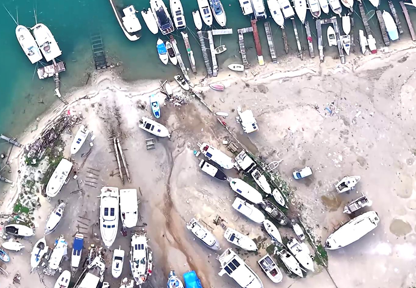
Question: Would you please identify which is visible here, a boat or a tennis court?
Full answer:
Looking from above, you can make out a boat.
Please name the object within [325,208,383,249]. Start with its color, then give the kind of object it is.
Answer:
white boat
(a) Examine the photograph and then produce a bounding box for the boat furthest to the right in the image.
[383,10,399,41]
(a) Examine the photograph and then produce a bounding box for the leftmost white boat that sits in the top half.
[17,24,43,64]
